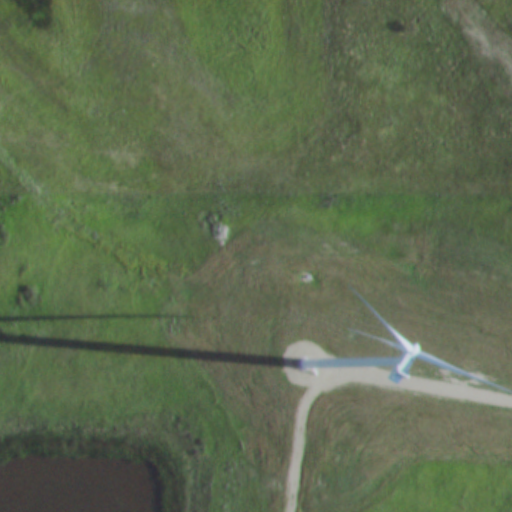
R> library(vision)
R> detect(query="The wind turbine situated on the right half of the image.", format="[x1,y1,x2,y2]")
[300,284,512,390]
